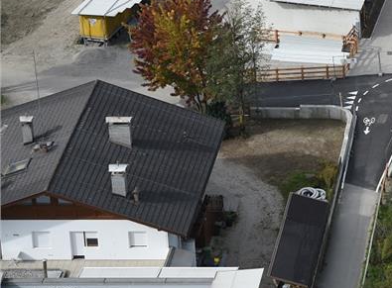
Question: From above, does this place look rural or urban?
urban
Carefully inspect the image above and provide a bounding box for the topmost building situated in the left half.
[0,71,229,268]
